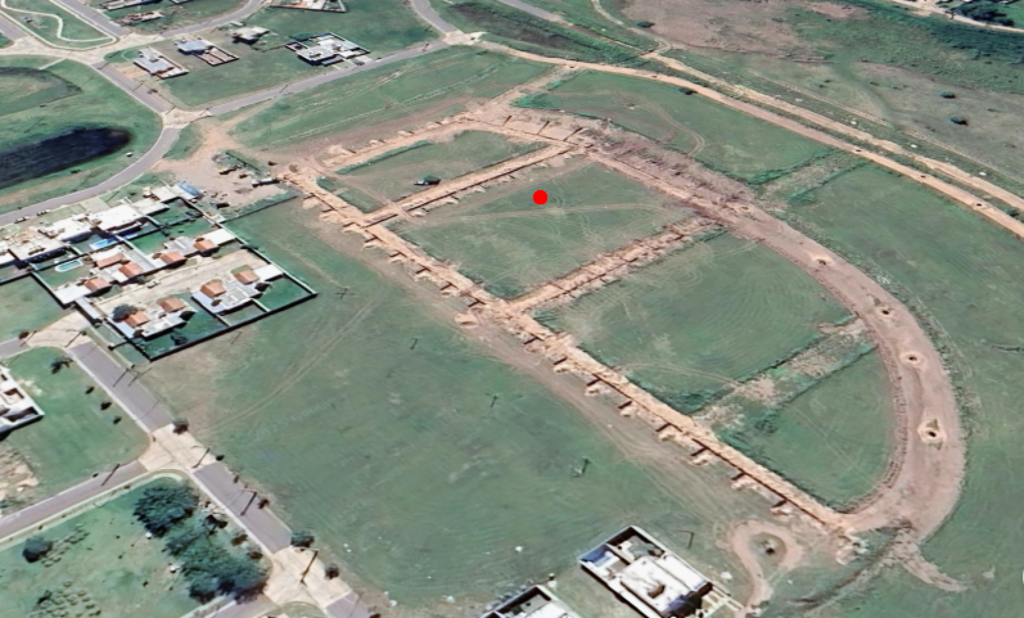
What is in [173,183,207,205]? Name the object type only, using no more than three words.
shed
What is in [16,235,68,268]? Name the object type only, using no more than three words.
house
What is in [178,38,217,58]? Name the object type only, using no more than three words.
house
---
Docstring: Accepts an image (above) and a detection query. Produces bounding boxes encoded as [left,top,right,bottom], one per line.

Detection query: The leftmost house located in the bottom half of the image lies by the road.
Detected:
[0,369,49,436]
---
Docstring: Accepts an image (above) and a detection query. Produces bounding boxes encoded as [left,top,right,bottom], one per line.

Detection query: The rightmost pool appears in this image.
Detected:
[587,550,612,568]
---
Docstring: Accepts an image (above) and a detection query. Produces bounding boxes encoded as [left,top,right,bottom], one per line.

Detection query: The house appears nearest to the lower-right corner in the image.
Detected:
[608,545,704,618]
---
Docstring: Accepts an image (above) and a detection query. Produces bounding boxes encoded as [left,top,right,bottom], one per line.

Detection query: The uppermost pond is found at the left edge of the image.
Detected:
[0,128,129,190]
